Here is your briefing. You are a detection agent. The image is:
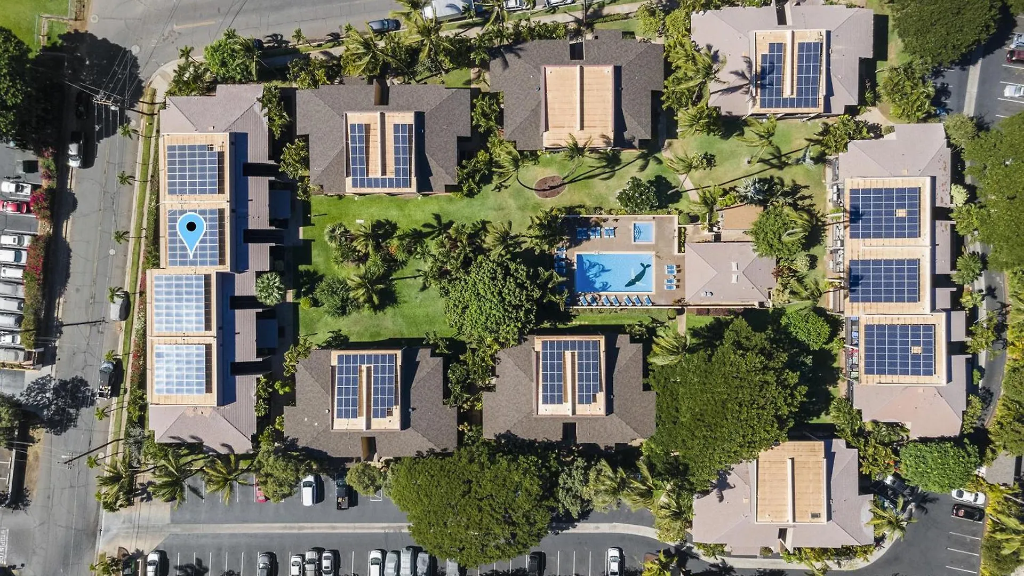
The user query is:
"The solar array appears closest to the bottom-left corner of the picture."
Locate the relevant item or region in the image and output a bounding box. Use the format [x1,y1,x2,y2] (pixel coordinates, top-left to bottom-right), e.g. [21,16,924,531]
[157,344,205,395]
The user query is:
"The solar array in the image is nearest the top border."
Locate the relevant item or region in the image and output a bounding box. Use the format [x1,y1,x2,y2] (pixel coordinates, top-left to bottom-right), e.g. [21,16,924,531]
[760,42,821,109]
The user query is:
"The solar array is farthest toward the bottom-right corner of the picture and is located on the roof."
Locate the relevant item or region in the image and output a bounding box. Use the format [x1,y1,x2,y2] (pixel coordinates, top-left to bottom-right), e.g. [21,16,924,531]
[863,324,934,375]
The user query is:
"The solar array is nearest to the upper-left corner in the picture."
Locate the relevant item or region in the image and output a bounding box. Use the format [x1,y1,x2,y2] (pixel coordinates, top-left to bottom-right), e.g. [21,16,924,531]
[169,144,218,195]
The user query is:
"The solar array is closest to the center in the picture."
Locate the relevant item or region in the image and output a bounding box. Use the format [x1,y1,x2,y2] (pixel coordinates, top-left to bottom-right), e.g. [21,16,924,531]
[542,340,599,404]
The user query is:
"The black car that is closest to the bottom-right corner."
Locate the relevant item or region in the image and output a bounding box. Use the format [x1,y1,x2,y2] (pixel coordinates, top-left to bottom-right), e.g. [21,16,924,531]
[949,503,982,520]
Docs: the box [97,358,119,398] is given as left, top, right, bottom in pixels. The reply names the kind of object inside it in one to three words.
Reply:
truck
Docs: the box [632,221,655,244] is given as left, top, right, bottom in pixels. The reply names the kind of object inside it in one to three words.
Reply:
swimming pool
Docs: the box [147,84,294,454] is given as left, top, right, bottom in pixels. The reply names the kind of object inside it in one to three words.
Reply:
building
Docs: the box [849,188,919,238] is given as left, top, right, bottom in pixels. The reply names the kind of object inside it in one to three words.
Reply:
solar array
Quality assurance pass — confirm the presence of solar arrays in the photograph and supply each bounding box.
[156,275,206,331]
[157,344,205,395]
[848,259,919,302]
[170,209,220,266]
[542,340,599,404]
[760,42,821,109]
[350,124,409,188]
[849,188,919,238]
[863,324,934,375]
[169,144,218,195]
[337,355,395,418]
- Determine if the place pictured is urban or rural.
urban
